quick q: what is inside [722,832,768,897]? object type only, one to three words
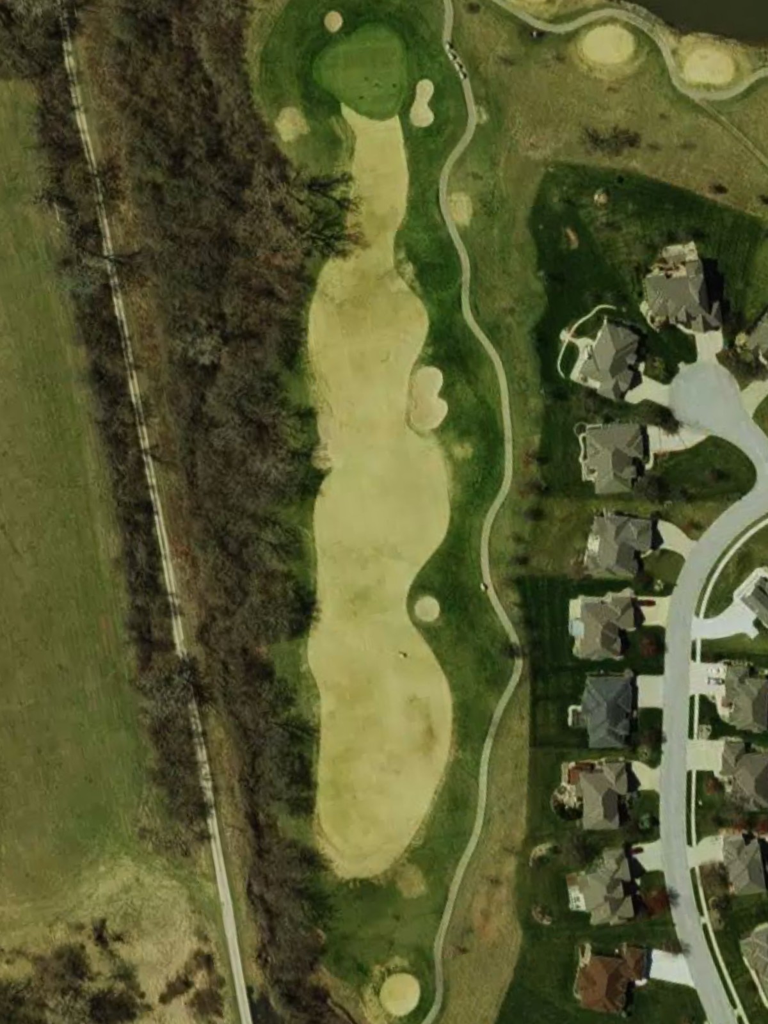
house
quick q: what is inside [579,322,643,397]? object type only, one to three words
house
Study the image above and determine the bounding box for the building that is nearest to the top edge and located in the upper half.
[645,240,723,333]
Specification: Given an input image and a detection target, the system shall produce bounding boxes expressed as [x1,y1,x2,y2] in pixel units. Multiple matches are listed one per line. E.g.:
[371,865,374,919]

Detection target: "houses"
[584,510,652,575]
[645,240,723,333]
[580,944,646,1012]
[724,665,768,730]
[579,322,643,397]
[566,845,635,924]
[737,930,768,1011]
[582,763,629,830]
[584,424,643,494]
[569,597,635,659]
[746,311,768,361]
[581,676,632,748]
[737,573,768,632]
[722,742,768,813]
[722,832,768,897]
